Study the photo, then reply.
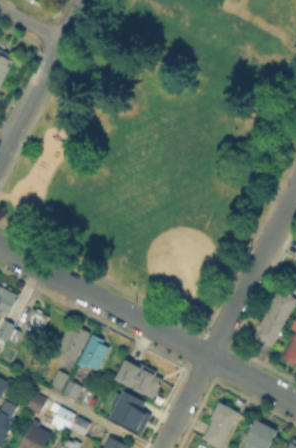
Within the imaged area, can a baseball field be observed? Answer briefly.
Yes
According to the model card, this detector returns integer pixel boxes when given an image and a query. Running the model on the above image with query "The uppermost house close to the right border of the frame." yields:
[258,294,296,344]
